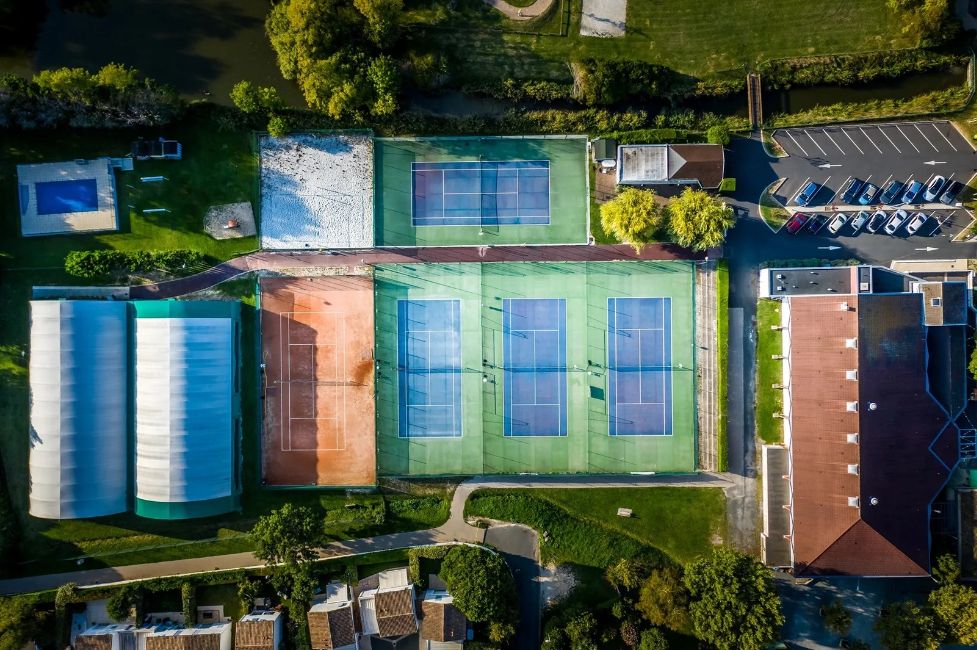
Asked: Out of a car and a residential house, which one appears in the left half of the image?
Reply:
residential house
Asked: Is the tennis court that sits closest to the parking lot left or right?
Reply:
right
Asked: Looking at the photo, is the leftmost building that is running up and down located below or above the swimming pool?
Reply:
below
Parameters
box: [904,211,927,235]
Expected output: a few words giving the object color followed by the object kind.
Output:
white car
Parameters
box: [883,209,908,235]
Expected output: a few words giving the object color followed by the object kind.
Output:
white car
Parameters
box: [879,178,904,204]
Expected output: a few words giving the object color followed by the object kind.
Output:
blue car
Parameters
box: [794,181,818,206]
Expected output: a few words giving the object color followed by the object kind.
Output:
blue car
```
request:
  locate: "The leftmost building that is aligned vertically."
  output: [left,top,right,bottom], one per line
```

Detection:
[29,299,129,519]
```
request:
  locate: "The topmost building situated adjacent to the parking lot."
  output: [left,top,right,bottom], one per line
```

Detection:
[615,143,725,189]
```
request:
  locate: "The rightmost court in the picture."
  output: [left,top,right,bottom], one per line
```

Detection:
[589,261,695,472]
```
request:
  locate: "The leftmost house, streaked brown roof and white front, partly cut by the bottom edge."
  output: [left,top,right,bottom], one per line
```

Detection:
[73,621,125,650]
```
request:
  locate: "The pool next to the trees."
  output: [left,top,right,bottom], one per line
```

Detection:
[16,157,135,237]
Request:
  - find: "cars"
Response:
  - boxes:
[904,211,927,235]
[883,209,908,235]
[839,177,864,203]
[900,179,924,204]
[923,176,947,201]
[879,178,904,204]
[849,210,870,232]
[805,212,827,236]
[794,181,818,206]
[786,212,809,235]
[940,179,965,204]
[864,209,889,234]
[858,182,879,205]
[825,211,847,234]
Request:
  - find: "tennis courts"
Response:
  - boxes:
[589,261,695,472]
[483,262,590,473]
[375,262,484,475]
[260,277,377,487]
[375,136,588,246]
